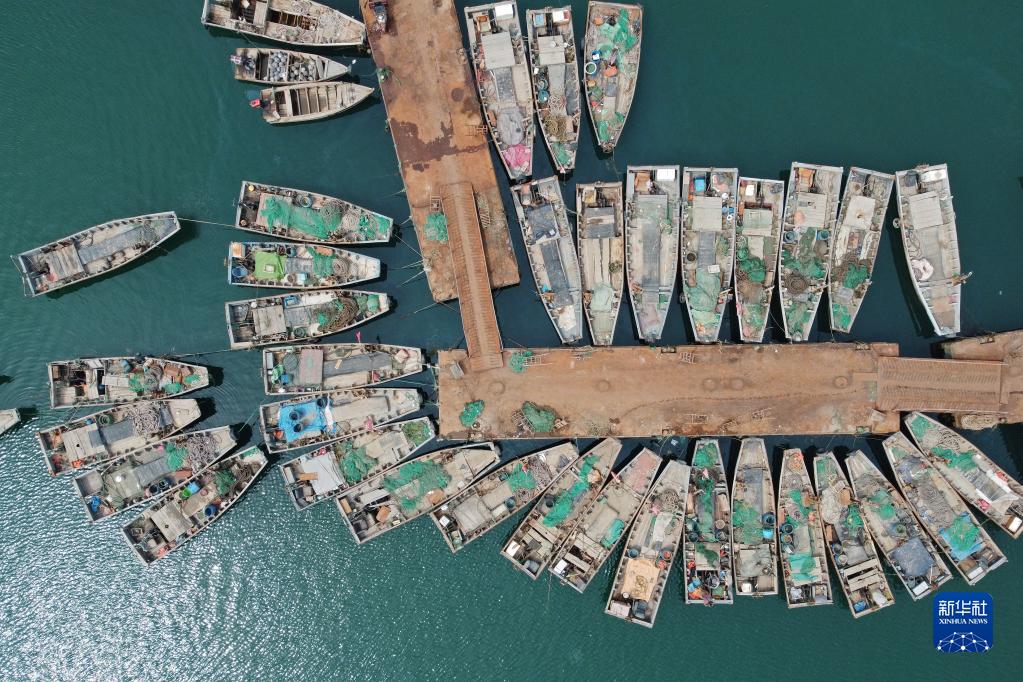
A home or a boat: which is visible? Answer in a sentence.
There is a boat in the scene.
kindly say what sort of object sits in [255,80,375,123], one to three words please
boat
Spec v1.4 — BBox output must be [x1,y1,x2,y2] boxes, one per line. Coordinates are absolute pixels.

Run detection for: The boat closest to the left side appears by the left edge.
[0,407,25,439]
